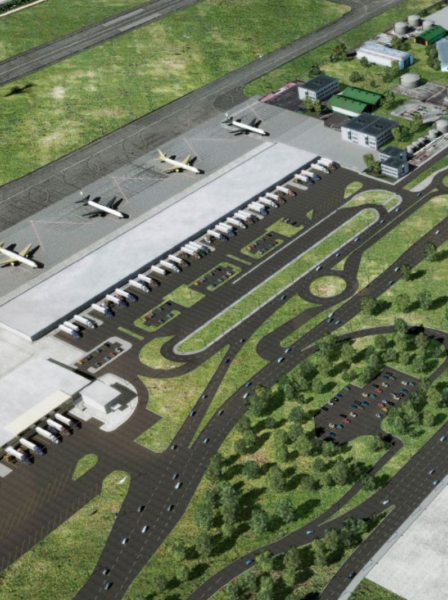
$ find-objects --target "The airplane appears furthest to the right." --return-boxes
[220,104,269,136]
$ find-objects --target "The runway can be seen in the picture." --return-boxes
[0,0,199,85]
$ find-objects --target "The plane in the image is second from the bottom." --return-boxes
[76,186,124,218]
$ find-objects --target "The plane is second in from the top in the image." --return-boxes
[152,143,200,174]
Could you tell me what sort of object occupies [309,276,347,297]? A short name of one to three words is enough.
roundabout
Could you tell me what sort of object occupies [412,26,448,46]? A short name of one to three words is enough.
shed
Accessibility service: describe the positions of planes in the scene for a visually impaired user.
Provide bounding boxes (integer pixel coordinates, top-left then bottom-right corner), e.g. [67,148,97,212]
[152,143,200,174]
[76,186,124,218]
[220,104,269,136]
[0,239,38,269]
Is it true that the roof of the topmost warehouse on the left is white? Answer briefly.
Yes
